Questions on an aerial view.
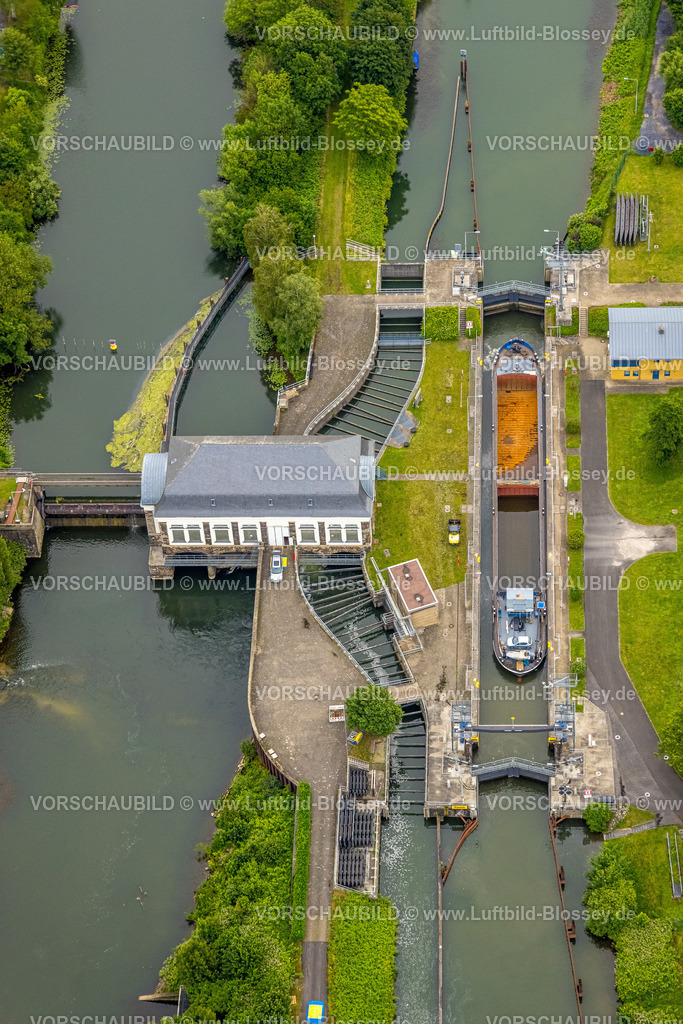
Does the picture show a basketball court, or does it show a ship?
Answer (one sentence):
The one in the frame is a ship.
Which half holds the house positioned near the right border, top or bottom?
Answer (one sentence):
Seen from above, the house positioned near the right border lies in the top half of the view.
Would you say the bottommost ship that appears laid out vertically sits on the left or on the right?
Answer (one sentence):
The bottommost ship that appears laid out vertically appears in the right half of the scene.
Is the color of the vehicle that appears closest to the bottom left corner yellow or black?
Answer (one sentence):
The vehicle that appears closest to the bottom left corner is yellow.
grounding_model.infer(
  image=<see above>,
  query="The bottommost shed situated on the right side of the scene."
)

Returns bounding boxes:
[387,558,438,628]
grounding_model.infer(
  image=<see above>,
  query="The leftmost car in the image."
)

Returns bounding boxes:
[271,558,283,581]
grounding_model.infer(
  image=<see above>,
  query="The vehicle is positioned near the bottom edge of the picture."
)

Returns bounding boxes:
[305,1002,326,1024]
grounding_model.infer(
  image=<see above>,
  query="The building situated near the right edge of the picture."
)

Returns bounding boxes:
[607,308,683,380]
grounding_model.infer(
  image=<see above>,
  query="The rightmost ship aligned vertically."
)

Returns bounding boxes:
[491,338,548,684]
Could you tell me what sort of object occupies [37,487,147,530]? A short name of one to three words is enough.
dam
